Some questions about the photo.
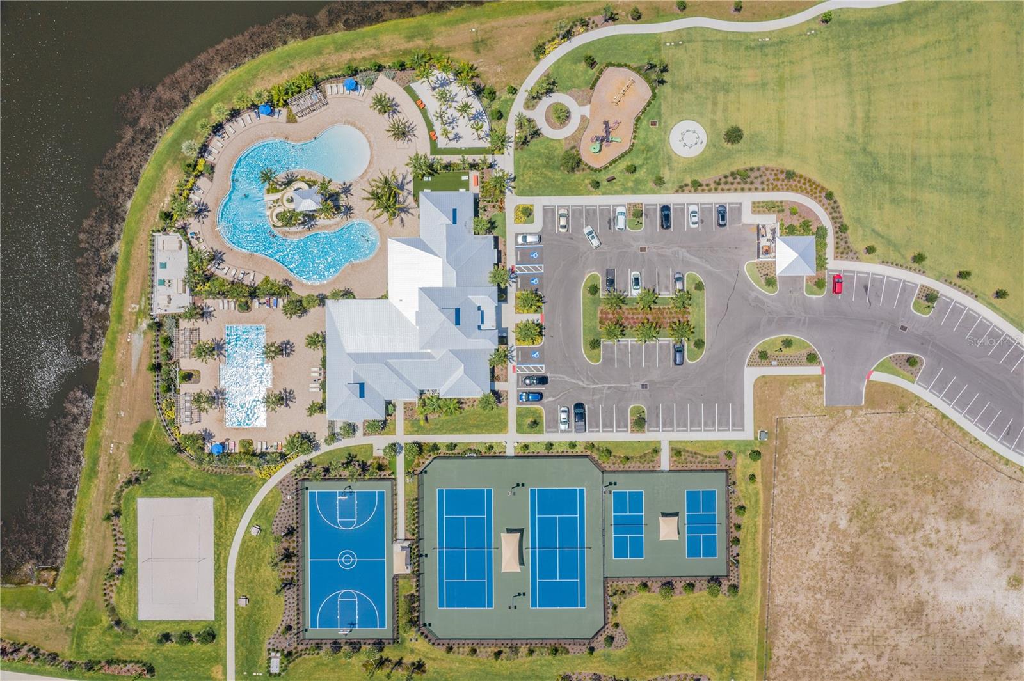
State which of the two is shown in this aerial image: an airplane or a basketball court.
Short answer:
basketball court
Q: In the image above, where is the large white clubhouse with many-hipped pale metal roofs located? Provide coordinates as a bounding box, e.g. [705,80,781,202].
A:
[326,192,498,420]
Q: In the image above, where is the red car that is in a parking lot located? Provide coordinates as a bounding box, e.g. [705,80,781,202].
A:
[832,273,844,294]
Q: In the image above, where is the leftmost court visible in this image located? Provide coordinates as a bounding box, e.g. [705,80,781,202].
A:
[137,498,214,621]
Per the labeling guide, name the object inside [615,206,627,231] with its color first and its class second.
white vehicle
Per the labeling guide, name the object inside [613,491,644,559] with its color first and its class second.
blue sports court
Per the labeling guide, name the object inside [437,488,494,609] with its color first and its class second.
blue tennis court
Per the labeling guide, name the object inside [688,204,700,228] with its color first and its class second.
white vehicle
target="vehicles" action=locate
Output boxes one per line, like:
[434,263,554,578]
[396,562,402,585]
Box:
[630,271,641,296]
[832,273,844,294]
[716,204,728,228]
[605,268,615,293]
[688,204,700,228]
[673,341,684,365]
[559,406,570,430]
[519,392,543,402]
[558,208,569,232]
[574,403,586,432]
[585,225,602,248]
[674,271,684,293]
[660,205,672,230]
[523,374,549,386]
[518,234,542,244]
[615,206,627,231]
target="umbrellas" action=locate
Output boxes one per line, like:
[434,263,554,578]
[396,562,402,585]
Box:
[259,103,271,115]
[211,442,224,455]
[343,77,356,90]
